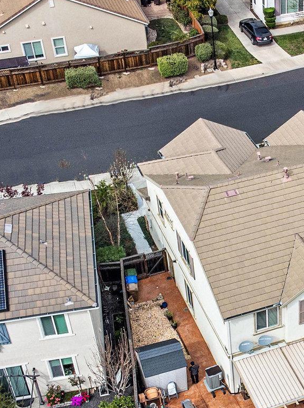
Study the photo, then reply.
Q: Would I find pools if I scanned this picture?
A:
No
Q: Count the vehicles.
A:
1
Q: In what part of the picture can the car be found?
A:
top right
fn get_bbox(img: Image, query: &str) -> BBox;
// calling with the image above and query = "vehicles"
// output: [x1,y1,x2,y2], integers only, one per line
[239,17,275,39]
